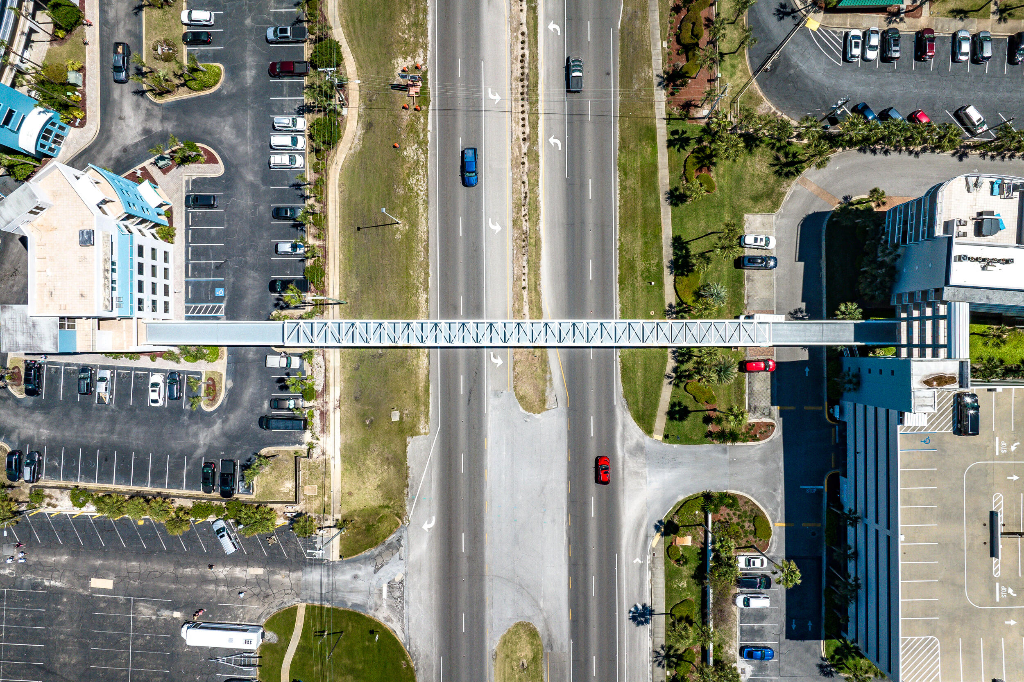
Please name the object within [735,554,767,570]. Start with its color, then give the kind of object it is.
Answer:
white car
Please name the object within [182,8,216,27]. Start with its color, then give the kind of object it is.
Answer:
white car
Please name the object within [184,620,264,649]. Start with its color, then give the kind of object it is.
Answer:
white bus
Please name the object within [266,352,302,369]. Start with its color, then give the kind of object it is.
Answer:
white vehicle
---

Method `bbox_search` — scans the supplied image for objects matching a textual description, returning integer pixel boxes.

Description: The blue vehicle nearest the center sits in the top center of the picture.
[462,147,479,187]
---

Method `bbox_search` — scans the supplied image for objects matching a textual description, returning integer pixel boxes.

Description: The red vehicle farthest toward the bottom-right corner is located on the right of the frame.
[743,358,775,374]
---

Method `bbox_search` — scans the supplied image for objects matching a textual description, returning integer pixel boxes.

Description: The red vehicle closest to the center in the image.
[595,455,611,484]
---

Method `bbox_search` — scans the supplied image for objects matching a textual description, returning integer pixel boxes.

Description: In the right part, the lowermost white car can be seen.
[737,592,770,610]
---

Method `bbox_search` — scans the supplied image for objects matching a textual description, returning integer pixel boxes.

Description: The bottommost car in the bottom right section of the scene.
[741,645,773,663]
